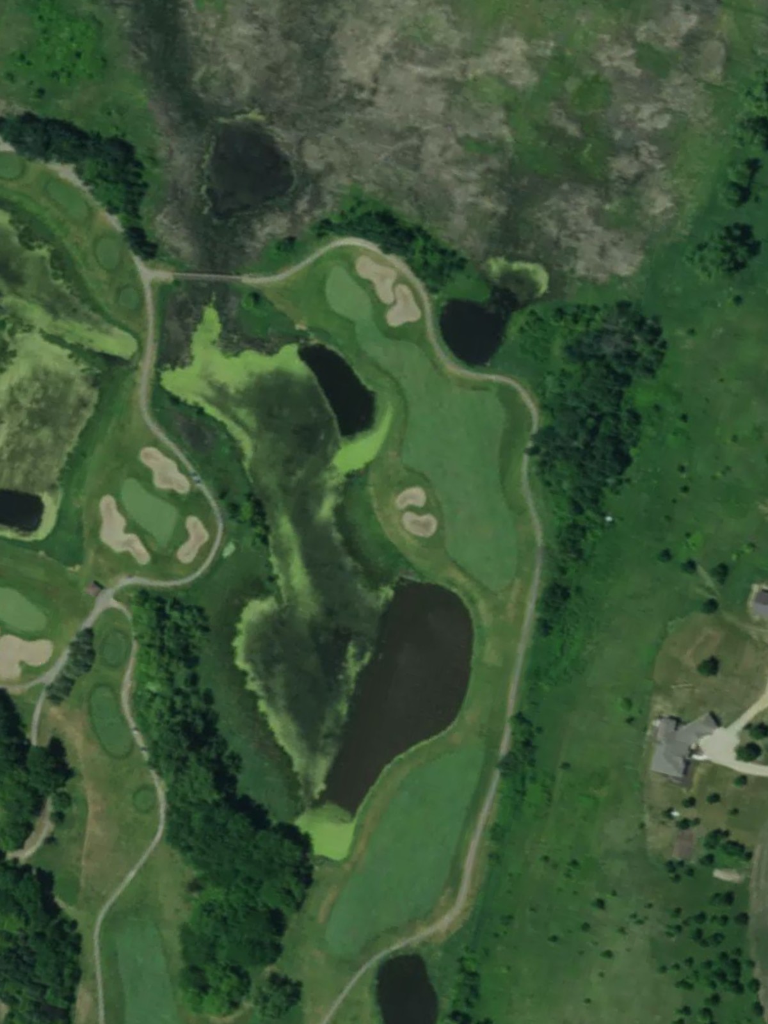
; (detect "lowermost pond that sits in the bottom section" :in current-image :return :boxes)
[377,954,438,1024]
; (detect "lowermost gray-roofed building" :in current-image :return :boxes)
[650,714,717,787]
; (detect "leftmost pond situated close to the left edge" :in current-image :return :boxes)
[0,448,74,542]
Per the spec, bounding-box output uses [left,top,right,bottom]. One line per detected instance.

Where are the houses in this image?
[752,589,768,619]
[650,714,717,787]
